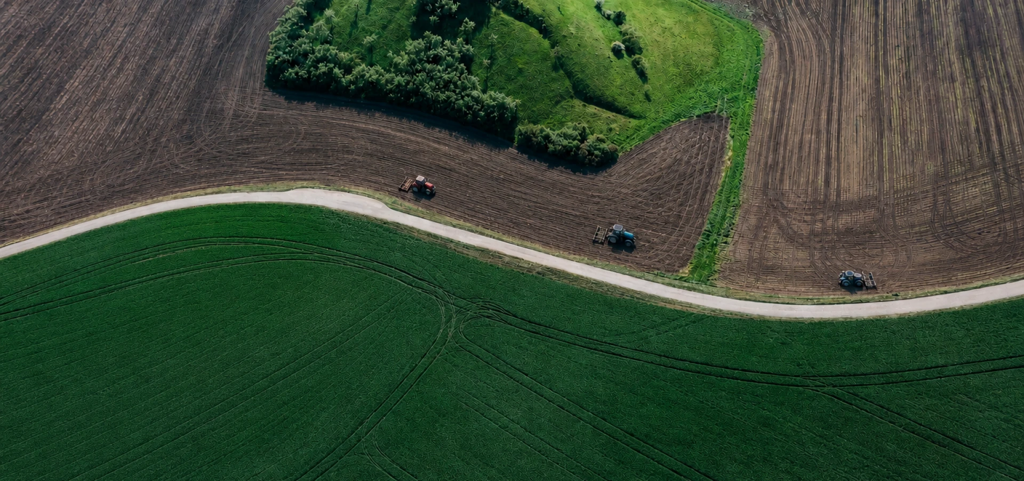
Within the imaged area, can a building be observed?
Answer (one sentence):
No, no building can be seen from above.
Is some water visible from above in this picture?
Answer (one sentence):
No, water can't be seen anywhere here.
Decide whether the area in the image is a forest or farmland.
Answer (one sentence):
The area seen from above is farmland.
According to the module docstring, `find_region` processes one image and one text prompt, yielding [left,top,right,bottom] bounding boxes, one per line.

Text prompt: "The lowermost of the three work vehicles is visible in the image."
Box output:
[836,270,862,289]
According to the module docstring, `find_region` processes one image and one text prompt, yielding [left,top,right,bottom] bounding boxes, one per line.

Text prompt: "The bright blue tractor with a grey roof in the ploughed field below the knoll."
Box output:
[607,223,636,245]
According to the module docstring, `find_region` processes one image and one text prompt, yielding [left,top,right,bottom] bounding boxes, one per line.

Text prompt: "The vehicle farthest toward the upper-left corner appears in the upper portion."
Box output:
[411,175,438,196]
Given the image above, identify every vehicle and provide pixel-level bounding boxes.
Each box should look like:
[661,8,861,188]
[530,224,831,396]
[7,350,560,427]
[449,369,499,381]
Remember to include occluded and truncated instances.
[411,175,438,196]
[607,223,636,245]
[836,270,862,289]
